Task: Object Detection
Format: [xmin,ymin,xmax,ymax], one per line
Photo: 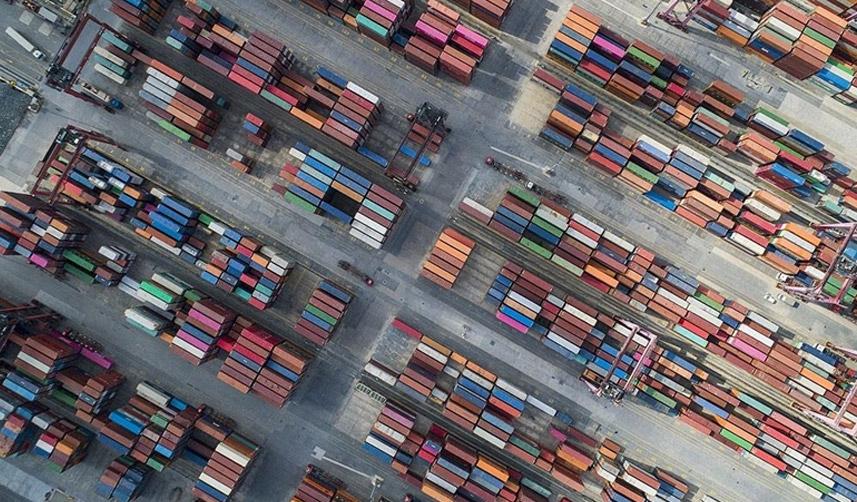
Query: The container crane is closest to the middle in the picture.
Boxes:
[377,105,445,201]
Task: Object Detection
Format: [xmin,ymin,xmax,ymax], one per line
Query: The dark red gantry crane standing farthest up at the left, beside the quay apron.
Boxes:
[42,8,146,114]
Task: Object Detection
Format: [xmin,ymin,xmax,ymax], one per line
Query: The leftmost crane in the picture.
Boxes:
[0,300,64,388]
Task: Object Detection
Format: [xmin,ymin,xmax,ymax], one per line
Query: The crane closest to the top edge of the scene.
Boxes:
[655,0,716,34]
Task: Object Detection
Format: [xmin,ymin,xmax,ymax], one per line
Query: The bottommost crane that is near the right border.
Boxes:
[787,336,857,436]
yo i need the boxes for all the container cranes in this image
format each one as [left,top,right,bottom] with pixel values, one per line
[575,309,664,405]
[42,8,146,114]
[787,336,857,436]
[377,105,445,201]
[21,123,129,218]
[0,300,64,388]
[770,218,857,308]
[655,0,716,34]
